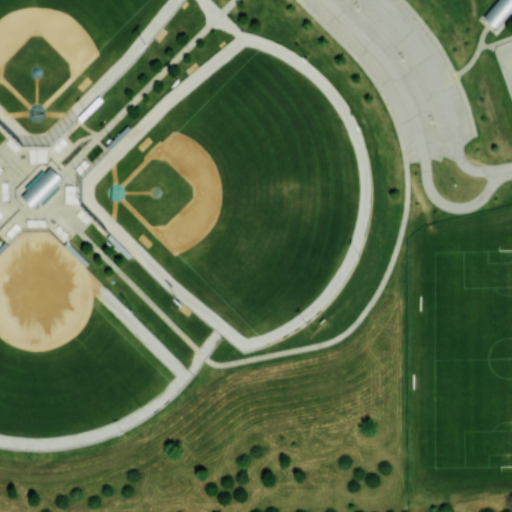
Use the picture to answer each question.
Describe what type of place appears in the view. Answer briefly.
sports ground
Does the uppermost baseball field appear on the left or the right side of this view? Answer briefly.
left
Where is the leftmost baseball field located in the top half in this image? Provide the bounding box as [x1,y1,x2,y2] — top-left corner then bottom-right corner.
[0,0,186,146]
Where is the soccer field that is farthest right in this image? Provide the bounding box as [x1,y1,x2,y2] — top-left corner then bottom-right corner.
[428,246,512,474]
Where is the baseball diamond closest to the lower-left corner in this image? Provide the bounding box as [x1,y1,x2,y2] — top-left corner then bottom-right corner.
[0,232,194,452]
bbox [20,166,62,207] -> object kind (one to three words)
building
